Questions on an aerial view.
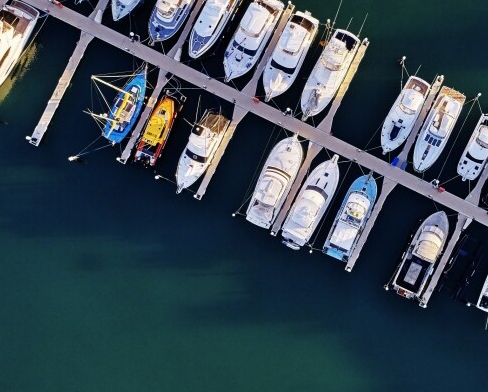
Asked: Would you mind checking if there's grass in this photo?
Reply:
No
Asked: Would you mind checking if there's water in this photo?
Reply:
Yes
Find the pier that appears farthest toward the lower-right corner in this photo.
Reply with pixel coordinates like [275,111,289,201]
[420,212,472,310]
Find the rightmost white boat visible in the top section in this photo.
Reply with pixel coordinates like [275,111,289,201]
[459,112,488,180]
